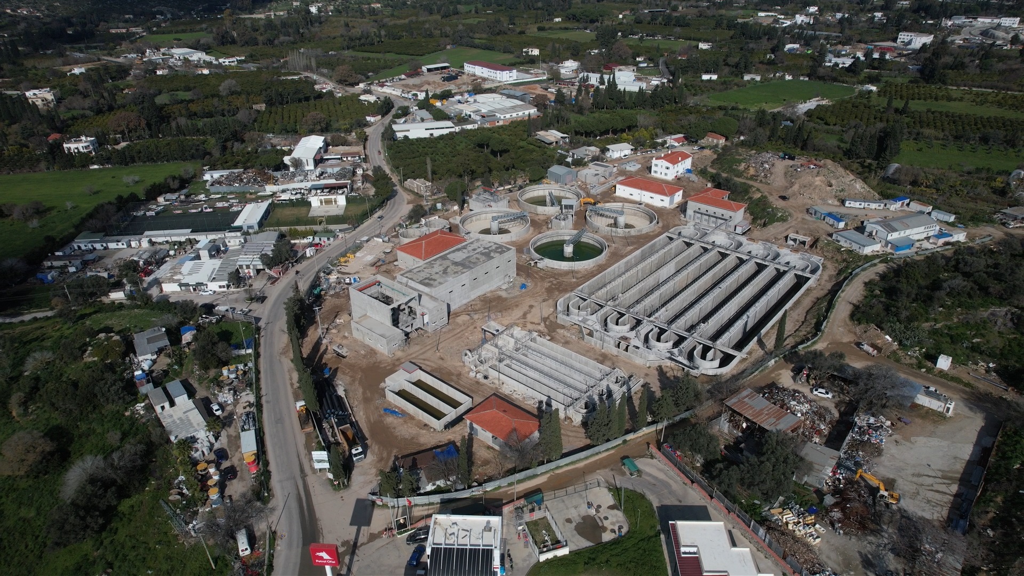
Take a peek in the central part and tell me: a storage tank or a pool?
storage tank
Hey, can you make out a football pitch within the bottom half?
No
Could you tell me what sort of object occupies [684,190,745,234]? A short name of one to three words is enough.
house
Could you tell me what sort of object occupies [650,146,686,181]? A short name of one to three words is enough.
building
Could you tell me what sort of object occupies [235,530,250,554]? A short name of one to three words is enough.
vehicle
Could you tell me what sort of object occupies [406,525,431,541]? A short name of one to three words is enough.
car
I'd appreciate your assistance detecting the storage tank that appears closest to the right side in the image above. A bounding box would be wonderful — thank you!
[584,202,658,243]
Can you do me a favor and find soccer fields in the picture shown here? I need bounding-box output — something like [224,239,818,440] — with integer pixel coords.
[107,206,245,235]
